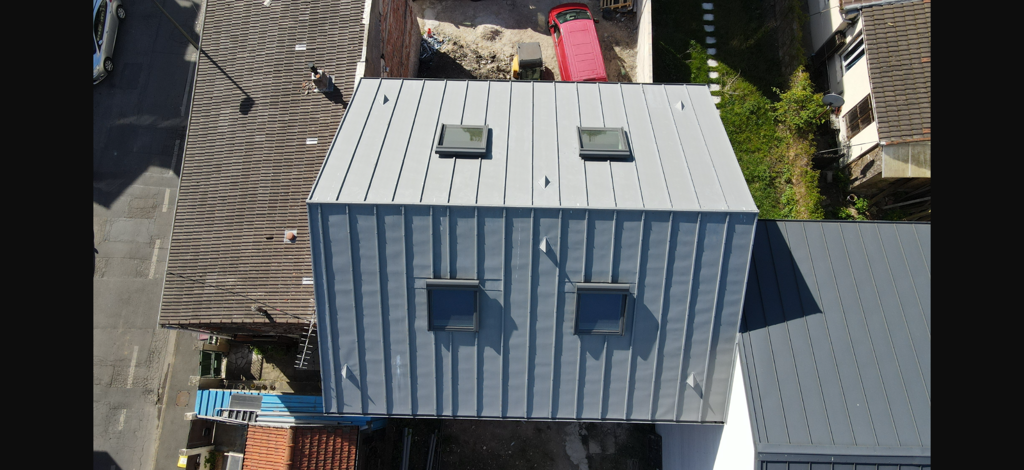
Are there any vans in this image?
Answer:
Yes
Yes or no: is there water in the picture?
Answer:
No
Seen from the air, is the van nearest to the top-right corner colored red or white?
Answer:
red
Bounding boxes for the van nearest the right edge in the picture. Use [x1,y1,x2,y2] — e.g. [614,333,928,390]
[545,4,606,80]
